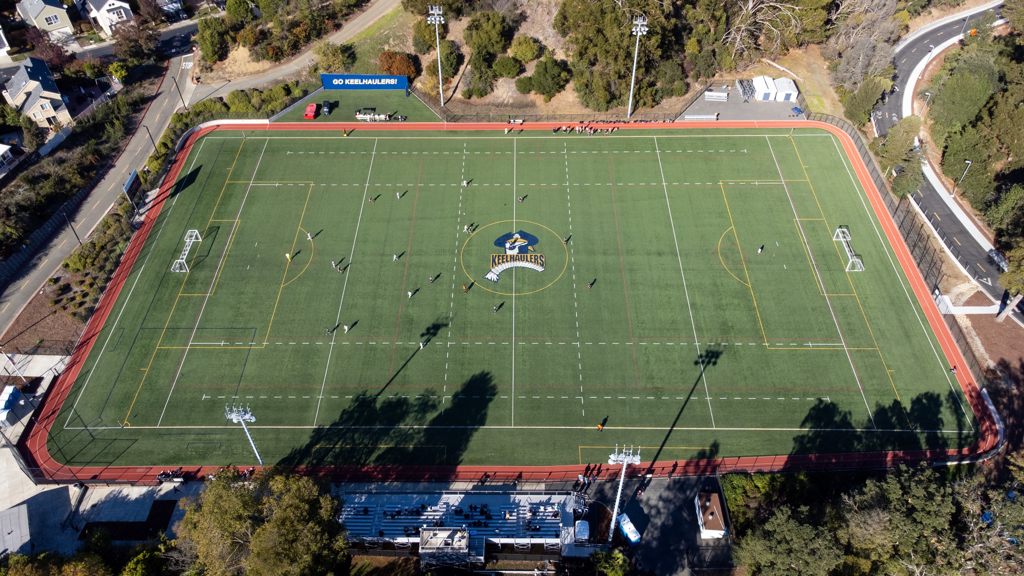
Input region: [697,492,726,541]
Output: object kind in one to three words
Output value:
shed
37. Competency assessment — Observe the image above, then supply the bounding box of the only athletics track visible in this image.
[22,120,998,483]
